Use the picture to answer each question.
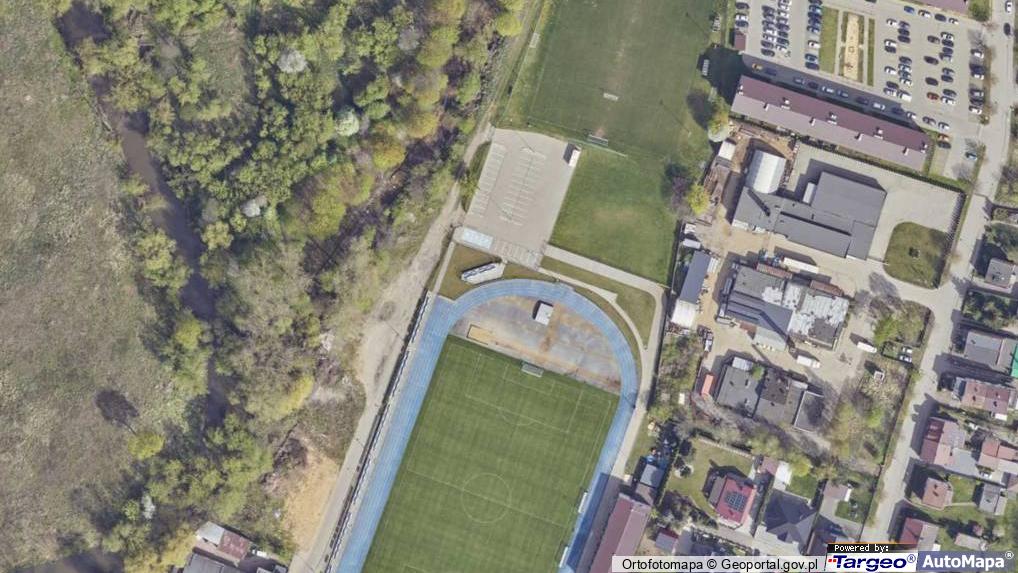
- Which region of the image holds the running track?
bottom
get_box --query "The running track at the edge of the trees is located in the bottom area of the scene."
[339,278,637,573]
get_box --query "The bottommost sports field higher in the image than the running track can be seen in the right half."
[552,155,684,283]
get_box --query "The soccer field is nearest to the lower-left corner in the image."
[360,334,619,573]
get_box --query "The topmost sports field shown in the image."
[529,0,712,160]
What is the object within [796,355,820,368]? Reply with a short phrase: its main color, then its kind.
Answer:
white vehicle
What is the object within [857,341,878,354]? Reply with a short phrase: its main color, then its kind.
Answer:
white vehicle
